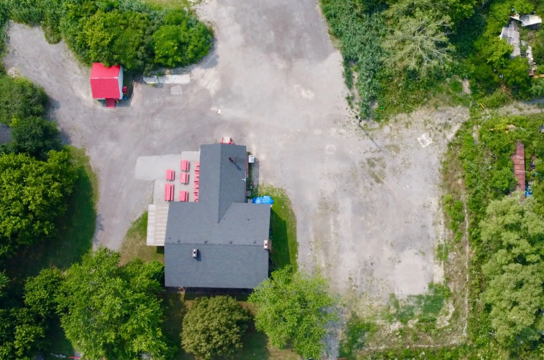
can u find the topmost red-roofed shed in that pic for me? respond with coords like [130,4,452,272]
[91,63,123,107]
